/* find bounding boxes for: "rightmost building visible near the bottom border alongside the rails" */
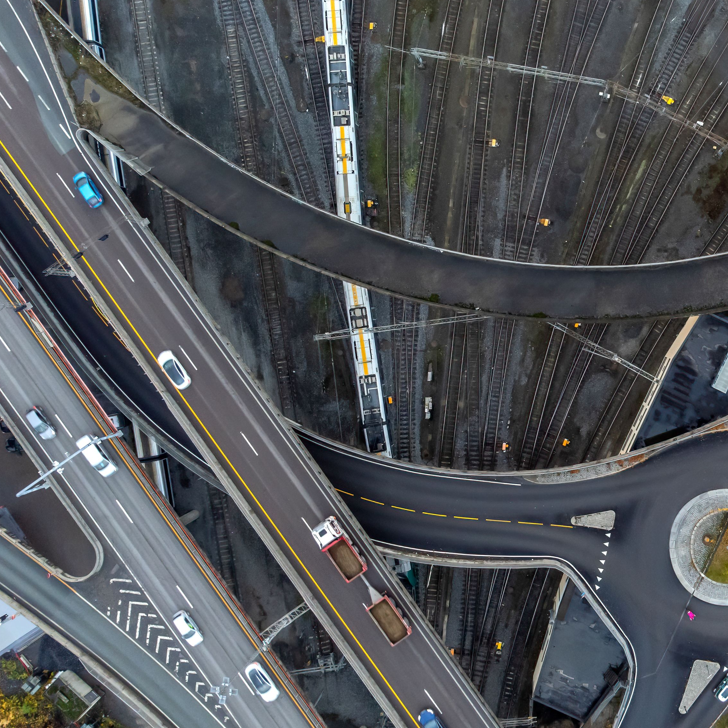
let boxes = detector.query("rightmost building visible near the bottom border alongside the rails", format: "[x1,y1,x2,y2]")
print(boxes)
[533,577,627,721]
